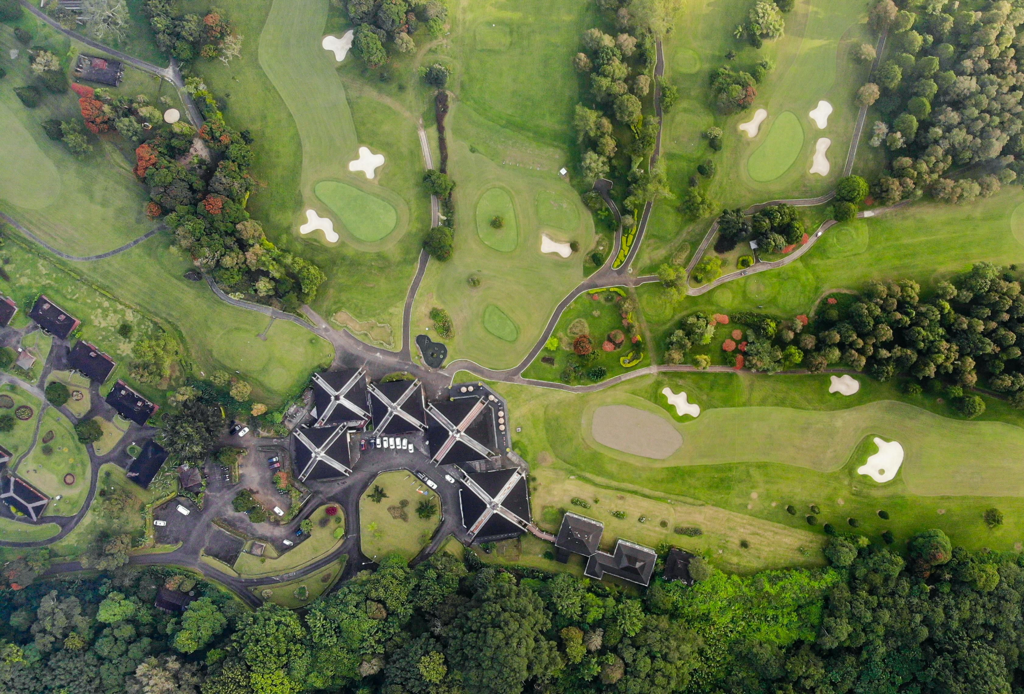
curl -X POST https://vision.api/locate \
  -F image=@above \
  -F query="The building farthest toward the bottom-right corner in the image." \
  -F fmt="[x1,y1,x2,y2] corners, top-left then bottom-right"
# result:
[663,548,696,585]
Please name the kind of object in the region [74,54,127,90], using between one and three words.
building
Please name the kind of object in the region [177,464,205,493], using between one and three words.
shed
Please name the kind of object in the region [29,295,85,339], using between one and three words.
house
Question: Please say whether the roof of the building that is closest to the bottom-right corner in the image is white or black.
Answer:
black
